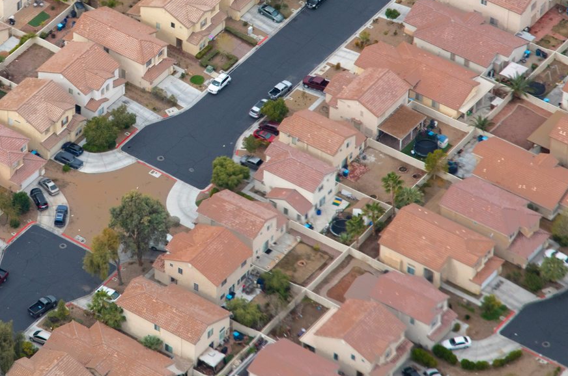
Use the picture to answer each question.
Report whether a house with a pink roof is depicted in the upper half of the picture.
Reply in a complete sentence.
Yes, a house with a pink roof can be seen in the upper half of the picture.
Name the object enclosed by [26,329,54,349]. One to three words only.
car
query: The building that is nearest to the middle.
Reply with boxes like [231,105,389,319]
[254,144,337,225]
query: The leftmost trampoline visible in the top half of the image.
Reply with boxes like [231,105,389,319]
[413,130,440,152]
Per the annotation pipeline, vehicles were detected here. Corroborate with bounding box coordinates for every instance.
[243,154,266,171]
[267,80,293,102]
[26,329,54,349]
[32,192,47,209]
[546,251,568,267]
[300,74,331,94]
[55,152,81,169]
[94,282,124,301]
[247,101,267,120]
[38,177,62,197]
[61,141,85,157]
[54,205,68,229]
[307,0,324,8]
[442,336,472,350]
[208,73,231,94]
[26,296,60,319]
[252,128,279,144]
[259,6,284,22]
[255,121,282,137]
[0,269,10,285]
